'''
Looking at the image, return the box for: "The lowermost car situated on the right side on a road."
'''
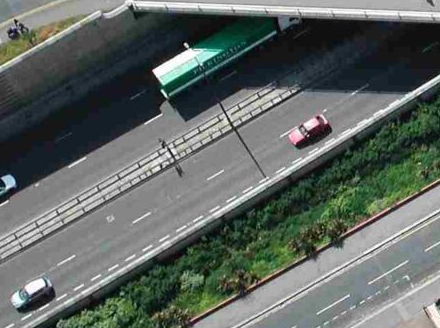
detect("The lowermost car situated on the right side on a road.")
[290,115,329,147]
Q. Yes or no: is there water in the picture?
No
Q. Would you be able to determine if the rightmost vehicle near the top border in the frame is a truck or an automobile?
truck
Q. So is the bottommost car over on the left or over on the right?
left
